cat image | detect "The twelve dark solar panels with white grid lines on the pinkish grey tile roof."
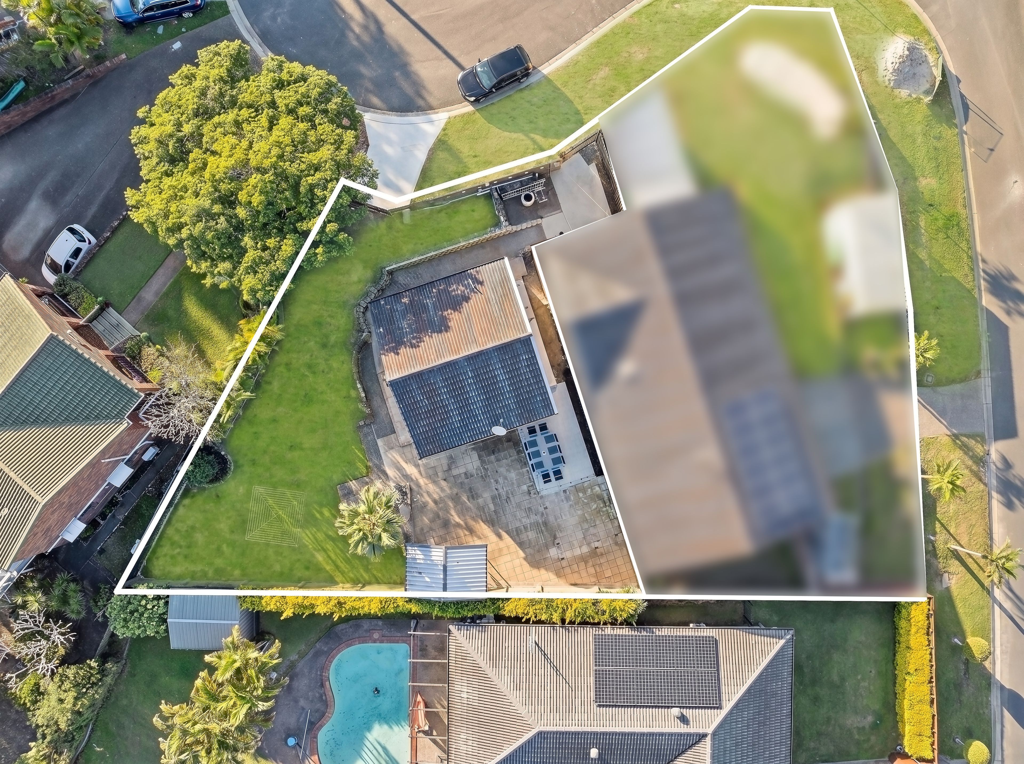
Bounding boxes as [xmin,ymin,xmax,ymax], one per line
[595,633,726,705]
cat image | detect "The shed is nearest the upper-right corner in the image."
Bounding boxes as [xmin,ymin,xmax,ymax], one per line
[799,197,910,326]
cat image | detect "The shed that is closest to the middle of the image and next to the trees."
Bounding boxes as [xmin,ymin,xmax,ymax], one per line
[368,255,561,461]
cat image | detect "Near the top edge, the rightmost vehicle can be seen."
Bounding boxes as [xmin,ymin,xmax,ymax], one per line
[455,38,537,100]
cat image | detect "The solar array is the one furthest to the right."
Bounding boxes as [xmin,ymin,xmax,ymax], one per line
[728,386,821,545]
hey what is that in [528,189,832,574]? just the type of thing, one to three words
house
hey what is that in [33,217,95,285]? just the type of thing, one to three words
car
